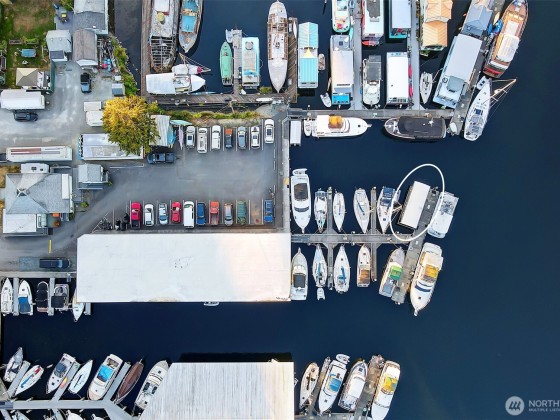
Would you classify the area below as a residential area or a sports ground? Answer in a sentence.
The area seen from above is a residential area.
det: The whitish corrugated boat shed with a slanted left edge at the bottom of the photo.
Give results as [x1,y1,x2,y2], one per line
[137,351,294,420]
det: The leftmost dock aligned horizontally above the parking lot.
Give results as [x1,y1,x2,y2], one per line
[141,94,291,106]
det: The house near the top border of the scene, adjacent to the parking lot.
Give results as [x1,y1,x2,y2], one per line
[298,20,319,94]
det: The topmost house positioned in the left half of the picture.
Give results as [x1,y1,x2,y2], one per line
[72,0,114,39]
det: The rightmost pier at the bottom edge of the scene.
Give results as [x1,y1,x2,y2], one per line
[355,355,382,416]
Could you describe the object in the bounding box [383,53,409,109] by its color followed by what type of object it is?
white boat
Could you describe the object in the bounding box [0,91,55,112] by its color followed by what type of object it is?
white trailer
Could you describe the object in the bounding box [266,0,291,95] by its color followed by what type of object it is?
white ship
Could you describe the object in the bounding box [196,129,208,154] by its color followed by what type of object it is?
white vehicle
